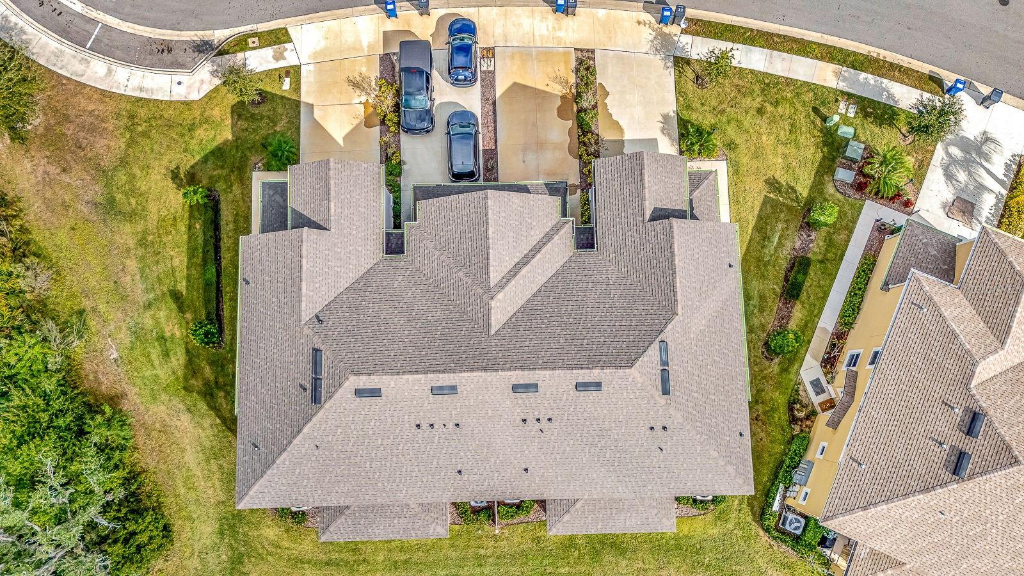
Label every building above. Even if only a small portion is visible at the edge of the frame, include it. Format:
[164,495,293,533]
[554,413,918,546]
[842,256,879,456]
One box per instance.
[233,154,756,542]
[786,217,1024,576]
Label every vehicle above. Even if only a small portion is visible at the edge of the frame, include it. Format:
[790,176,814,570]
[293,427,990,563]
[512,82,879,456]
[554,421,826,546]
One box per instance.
[444,110,482,181]
[444,17,480,87]
[396,40,434,136]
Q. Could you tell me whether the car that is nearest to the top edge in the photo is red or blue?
blue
